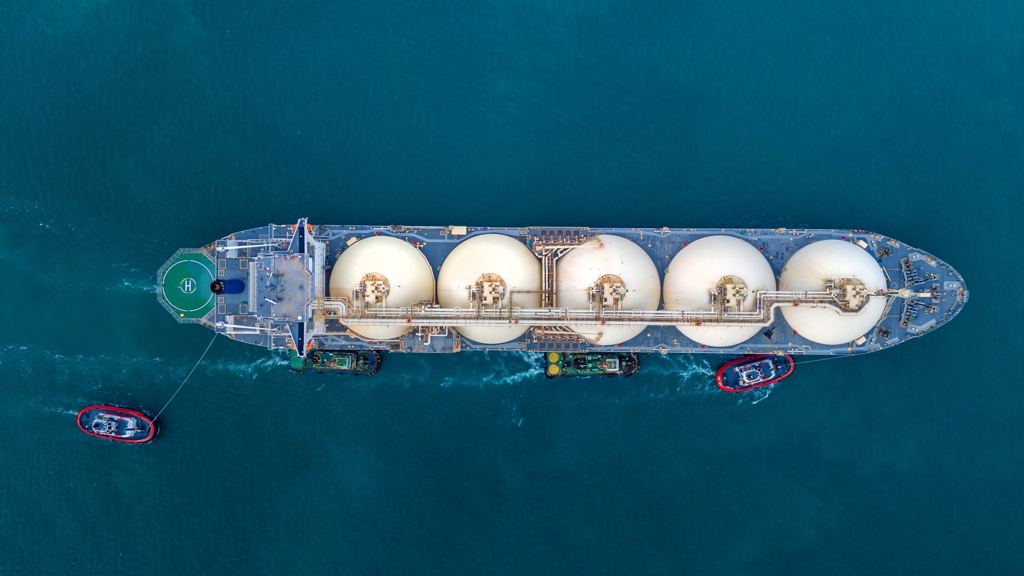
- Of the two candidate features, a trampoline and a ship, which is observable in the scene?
ship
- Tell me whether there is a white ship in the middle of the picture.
Yes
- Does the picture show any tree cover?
No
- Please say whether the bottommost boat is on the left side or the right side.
left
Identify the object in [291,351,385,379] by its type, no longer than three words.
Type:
boat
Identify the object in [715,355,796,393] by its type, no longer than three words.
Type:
boat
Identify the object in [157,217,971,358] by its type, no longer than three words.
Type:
ship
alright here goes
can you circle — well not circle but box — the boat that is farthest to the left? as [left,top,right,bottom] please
[77,407,160,441]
